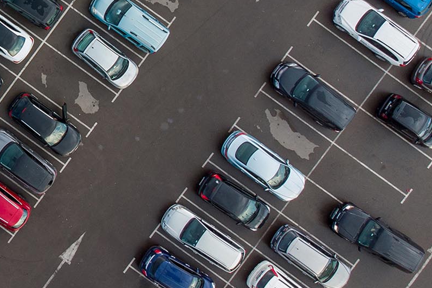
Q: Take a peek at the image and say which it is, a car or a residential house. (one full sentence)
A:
I can see a car in this picture.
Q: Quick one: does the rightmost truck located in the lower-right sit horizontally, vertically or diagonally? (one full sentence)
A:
The rightmost truck located in the lower-right is oriented diagonally.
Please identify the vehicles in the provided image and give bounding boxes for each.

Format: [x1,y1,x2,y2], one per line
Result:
[267,60,362,135]
[0,127,61,200]
[87,0,175,58]
[267,221,352,288]
[0,181,35,236]
[323,195,427,277]
[0,13,36,66]
[194,169,270,234]
[381,0,432,20]
[330,0,428,69]
[68,25,139,91]
[407,56,432,99]
[4,88,83,158]
[0,0,66,33]
[242,257,303,288]
[371,90,432,152]
[218,130,305,204]
[137,244,214,288]
[159,202,250,279]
